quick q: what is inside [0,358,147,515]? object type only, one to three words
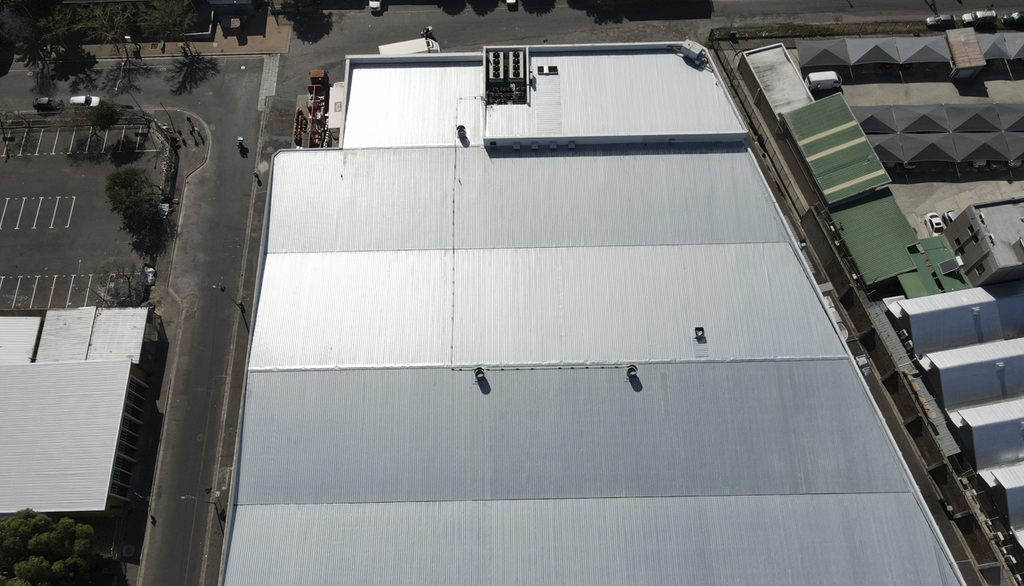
building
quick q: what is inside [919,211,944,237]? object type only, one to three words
car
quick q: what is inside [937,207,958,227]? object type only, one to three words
car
